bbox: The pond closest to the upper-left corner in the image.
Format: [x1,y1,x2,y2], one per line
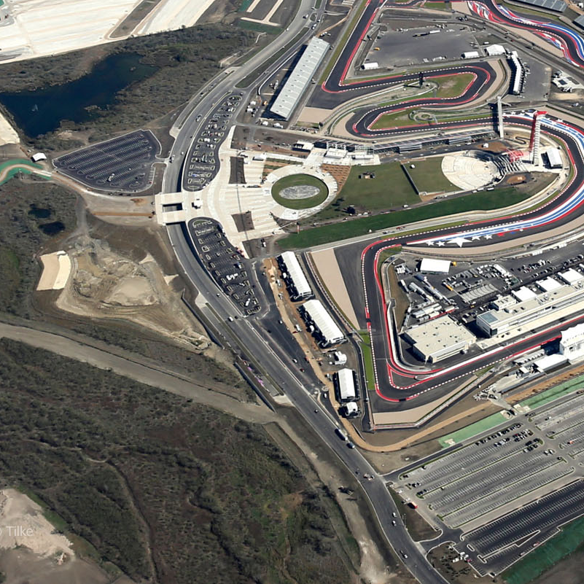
[0,51,160,135]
